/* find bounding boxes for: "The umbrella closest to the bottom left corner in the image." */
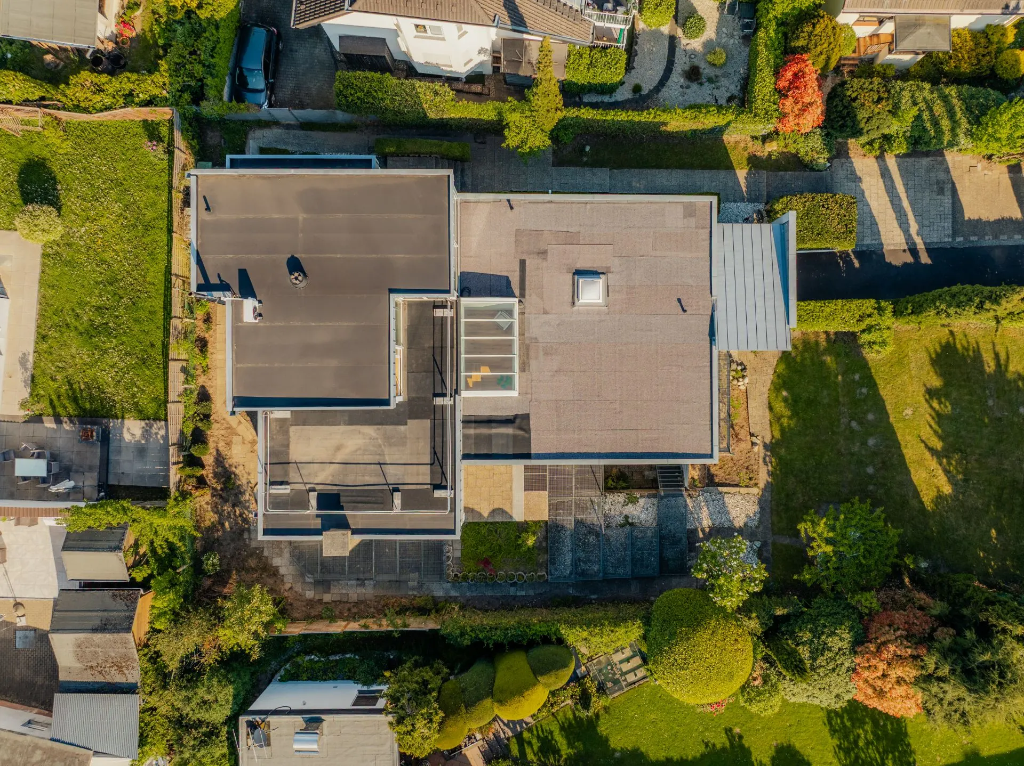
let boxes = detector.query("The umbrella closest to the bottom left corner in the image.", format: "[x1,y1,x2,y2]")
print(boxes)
[47,477,83,491]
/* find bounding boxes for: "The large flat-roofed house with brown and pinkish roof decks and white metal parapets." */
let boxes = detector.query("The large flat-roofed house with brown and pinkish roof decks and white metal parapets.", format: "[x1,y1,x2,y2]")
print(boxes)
[186,155,718,539]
